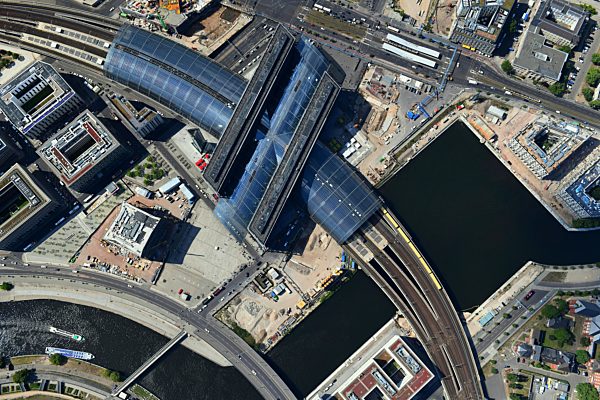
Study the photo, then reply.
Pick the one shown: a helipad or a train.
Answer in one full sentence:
It is a train that can be seen here.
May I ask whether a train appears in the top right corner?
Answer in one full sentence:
Yes, a train appears in the top right corner.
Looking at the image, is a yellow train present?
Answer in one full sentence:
Yes, a yellow train is visible in the scene.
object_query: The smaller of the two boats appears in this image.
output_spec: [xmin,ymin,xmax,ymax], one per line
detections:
[49,326,84,341]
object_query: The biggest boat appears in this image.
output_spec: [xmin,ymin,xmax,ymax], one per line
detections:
[45,346,96,360]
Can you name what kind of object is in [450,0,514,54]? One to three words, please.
building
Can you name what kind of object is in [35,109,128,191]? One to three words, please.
building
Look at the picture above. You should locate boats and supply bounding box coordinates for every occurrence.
[49,326,84,341]
[45,346,96,360]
